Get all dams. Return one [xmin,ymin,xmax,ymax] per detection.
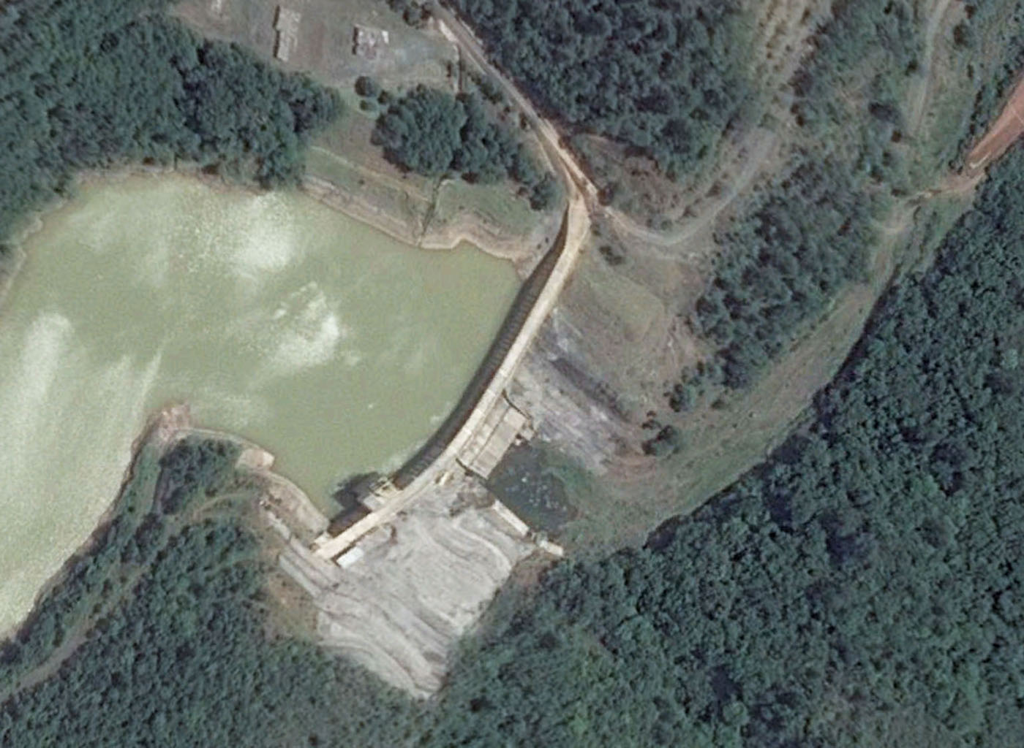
[317,198,588,559]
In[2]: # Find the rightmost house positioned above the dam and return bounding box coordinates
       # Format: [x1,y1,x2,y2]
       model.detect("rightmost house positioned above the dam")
[355,25,388,56]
